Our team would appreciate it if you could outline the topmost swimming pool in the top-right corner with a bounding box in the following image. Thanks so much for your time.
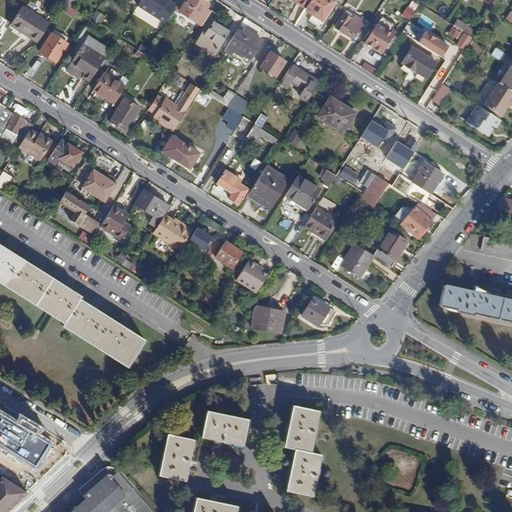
[416,13,436,30]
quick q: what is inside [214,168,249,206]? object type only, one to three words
house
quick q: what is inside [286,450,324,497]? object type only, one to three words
building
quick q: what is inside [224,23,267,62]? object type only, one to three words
house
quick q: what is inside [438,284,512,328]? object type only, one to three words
building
